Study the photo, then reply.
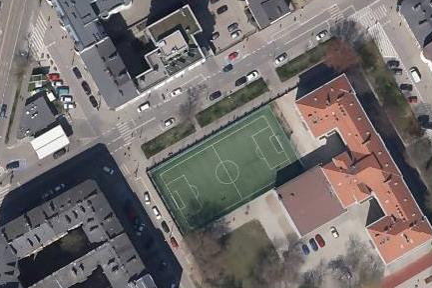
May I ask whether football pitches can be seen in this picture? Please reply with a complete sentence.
Yes, you can see a football pitch in this photo.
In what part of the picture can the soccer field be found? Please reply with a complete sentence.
Look in the center portion of the view to spot the soccer field.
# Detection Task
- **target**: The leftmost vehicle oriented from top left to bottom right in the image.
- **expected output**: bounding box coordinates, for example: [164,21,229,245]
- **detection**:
[44,88,57,104]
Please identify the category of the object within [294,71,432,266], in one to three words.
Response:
building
